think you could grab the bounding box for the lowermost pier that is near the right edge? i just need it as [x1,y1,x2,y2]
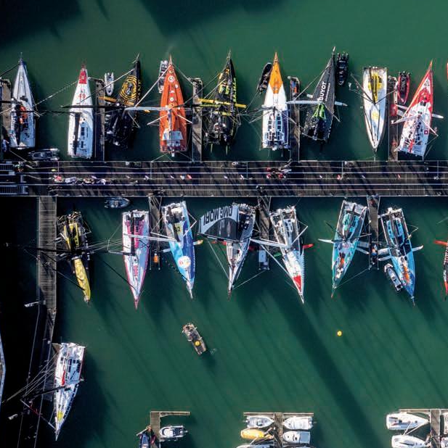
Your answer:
[399,409,448,448]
